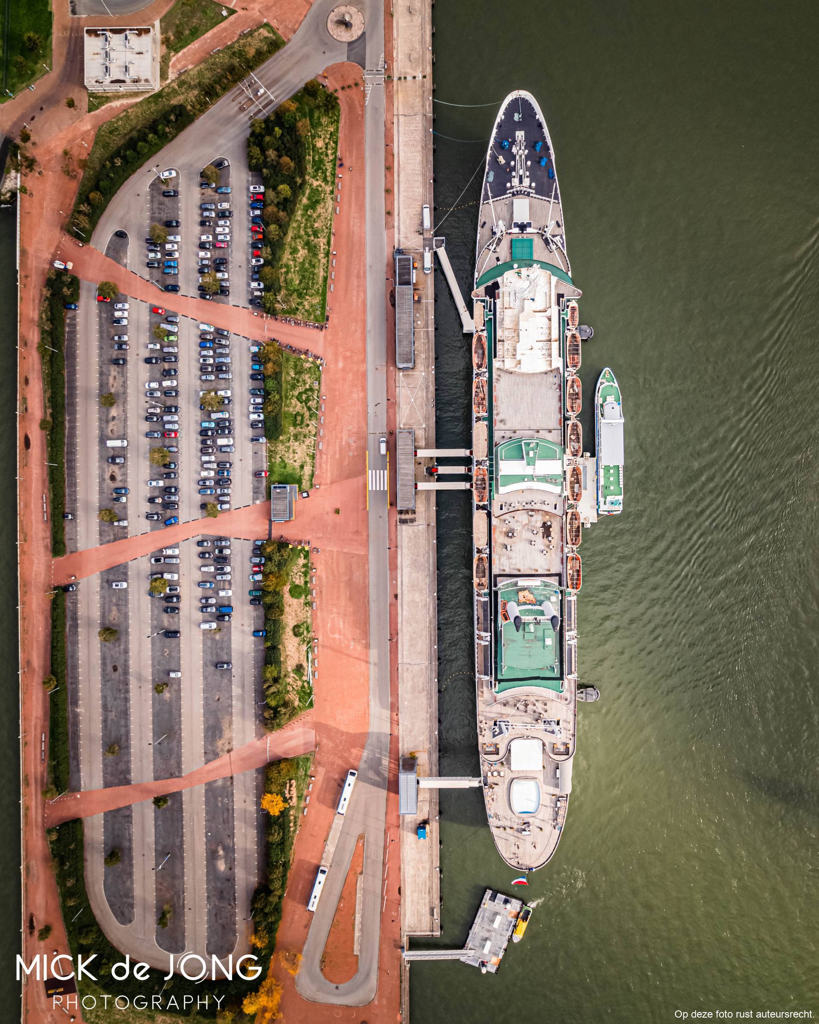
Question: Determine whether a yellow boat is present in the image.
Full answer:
Yes, there's a yellow boat here.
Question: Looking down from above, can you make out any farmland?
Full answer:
No, there is no farmland in the image.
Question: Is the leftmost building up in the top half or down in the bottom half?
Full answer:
The top half of the photo is where the leftmost building is.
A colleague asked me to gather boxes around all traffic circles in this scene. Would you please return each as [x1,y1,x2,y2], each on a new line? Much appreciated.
[326,3,365,43]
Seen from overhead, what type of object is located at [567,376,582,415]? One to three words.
boat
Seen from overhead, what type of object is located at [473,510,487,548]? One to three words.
boat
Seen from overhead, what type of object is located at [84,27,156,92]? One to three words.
building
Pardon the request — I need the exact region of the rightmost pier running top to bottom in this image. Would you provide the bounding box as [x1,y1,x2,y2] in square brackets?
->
[577,453,597,531]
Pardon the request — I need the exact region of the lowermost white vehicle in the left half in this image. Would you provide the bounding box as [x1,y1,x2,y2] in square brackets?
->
[308,863,328,911]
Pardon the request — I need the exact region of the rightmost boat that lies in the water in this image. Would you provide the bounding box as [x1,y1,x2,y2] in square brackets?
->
[594,367,625,517]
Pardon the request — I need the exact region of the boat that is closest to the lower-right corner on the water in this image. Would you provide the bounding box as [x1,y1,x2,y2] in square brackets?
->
[515,905,532,941]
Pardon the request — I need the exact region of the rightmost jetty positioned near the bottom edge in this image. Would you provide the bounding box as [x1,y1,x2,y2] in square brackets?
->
[459,888,525,974]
